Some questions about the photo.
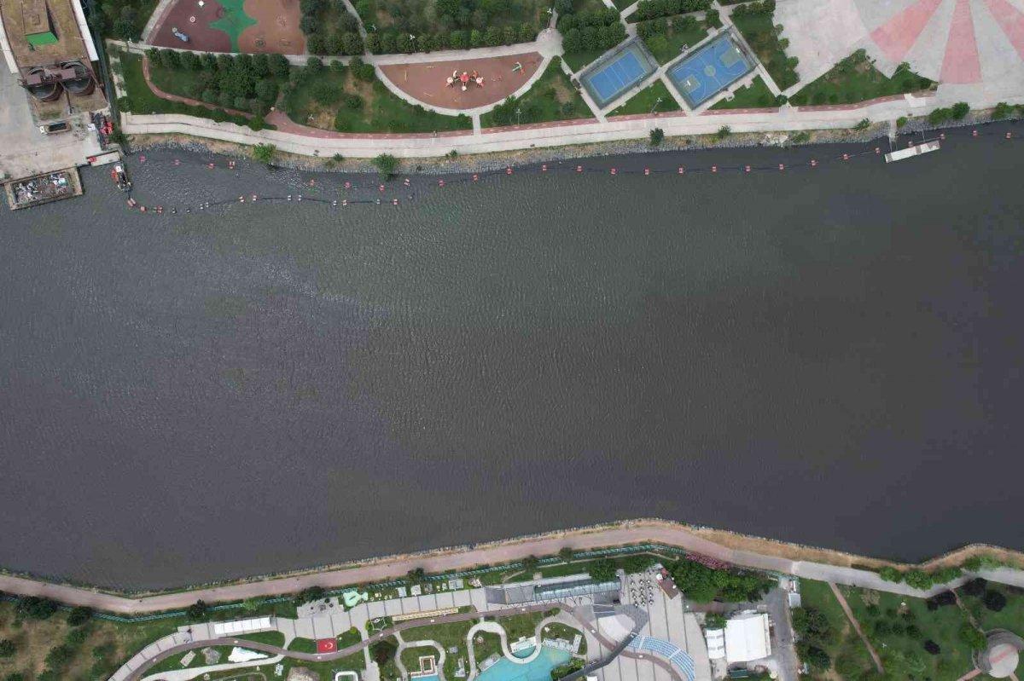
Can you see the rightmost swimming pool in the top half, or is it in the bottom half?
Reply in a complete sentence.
The rightmost swimming pool sits in the bottom half of the picture.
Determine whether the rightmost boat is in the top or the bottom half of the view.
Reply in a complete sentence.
You can find the rightmost boat in the top half.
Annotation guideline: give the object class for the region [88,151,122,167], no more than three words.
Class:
pier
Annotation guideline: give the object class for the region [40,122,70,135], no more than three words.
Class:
vehicle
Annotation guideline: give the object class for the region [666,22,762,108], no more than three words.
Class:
basketball court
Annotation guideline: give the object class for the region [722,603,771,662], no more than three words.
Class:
building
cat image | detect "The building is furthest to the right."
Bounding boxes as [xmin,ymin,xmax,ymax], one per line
[984,644,1019,676]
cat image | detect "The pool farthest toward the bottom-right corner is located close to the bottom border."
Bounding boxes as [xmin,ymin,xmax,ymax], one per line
[478,644,572,681]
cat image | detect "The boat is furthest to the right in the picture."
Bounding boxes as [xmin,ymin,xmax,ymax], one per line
[117,165,140,202]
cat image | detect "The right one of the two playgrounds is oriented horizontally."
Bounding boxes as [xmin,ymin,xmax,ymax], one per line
[378,51,544,110]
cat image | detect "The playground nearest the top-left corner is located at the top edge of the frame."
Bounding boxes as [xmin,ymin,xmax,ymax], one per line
[151,0,305,54]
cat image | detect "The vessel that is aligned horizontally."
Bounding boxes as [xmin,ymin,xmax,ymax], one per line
[4,167,85,210]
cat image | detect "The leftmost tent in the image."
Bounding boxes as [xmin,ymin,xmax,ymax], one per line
[597,613,635,641]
